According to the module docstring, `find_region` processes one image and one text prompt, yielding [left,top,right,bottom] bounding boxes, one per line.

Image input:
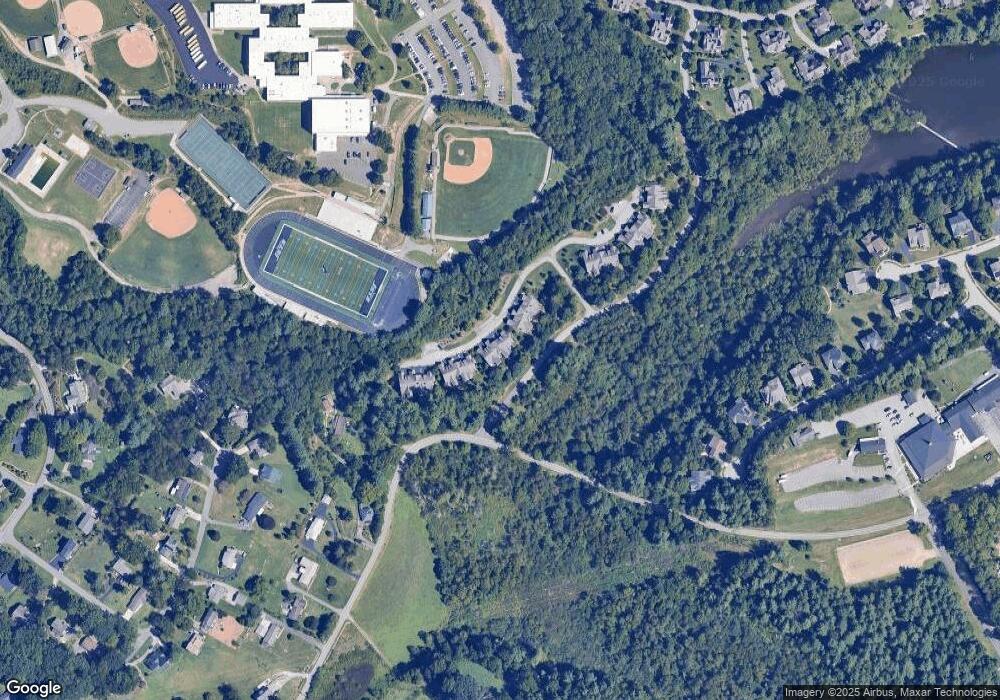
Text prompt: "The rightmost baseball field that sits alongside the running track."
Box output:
[436,128,549,243]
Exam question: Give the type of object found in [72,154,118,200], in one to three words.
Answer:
basketball court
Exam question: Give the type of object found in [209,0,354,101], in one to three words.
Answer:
building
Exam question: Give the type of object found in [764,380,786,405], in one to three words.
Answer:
house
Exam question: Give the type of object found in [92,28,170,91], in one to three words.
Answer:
baseball field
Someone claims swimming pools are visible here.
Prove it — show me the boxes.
[16,144,67,197]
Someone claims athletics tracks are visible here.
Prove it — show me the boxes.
[244,211,422,333]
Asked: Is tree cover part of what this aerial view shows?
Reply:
Yes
